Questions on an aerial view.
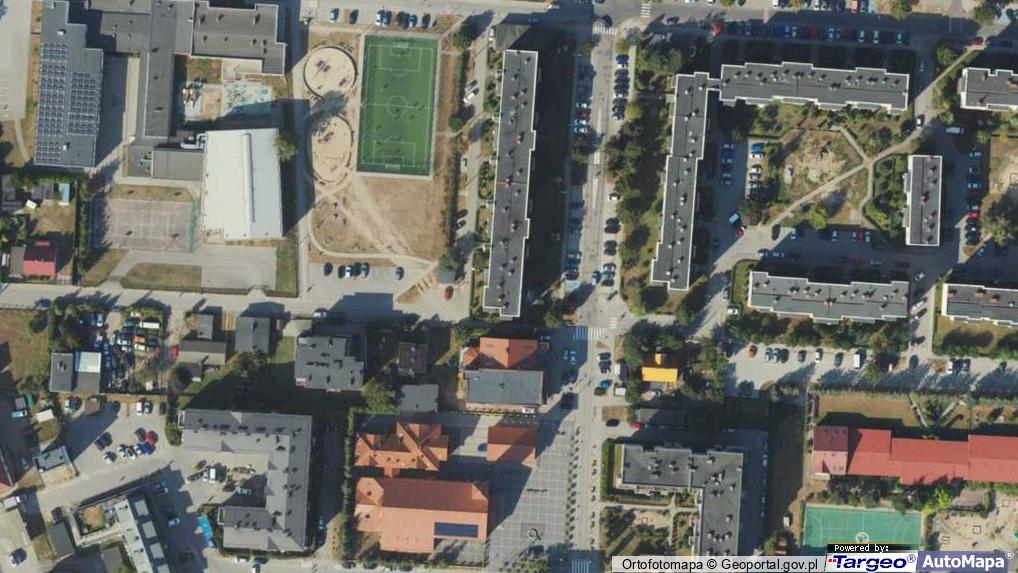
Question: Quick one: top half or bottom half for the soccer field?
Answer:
top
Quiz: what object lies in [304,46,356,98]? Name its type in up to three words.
playground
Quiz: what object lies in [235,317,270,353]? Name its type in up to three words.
house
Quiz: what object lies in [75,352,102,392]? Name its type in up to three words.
building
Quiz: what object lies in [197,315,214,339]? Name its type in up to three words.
shed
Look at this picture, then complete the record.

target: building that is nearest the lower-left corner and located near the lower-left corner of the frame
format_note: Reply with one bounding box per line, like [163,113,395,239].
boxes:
[0,507,32,557]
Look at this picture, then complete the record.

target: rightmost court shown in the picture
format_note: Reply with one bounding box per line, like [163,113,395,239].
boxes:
[797,503,924,573]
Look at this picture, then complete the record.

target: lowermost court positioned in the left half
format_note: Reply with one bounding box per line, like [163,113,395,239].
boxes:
[97,199,191,250]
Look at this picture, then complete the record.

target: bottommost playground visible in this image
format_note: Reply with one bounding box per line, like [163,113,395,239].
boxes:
[309,114,353,184]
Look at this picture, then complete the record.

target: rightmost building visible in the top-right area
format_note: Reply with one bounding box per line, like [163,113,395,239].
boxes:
[955,68,1018,112]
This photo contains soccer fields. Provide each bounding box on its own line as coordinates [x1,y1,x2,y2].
[353,31,442,179]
